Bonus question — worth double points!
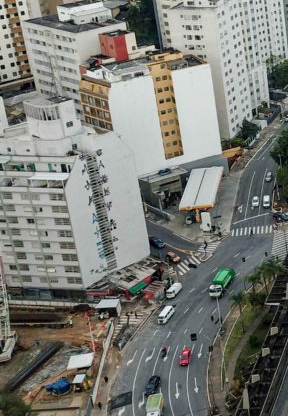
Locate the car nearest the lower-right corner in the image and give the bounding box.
[178,345,192,367]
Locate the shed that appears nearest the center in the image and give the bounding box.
[139,167,191,218]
